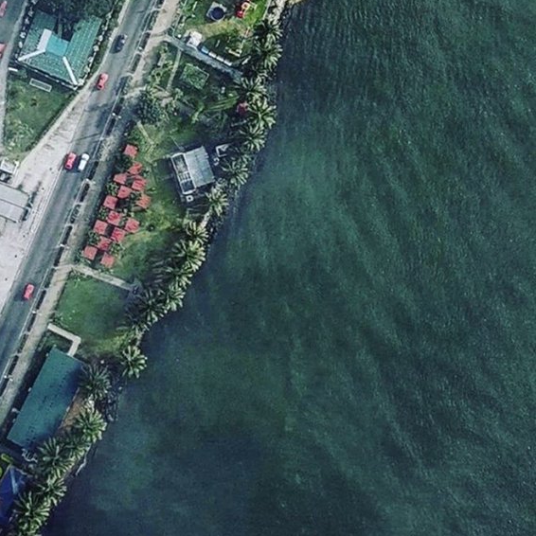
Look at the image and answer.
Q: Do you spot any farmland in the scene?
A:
No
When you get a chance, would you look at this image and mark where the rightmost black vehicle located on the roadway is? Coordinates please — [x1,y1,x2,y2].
[113,33,125,52]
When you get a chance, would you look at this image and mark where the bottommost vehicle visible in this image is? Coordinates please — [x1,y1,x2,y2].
[21,283,33,302]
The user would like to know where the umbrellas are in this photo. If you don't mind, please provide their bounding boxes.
[100,252,115,269]
[112,171,128,185]
[95,234,112,252]
[117,184,132,200]
[82,244,99,261]
[122,142,140,159]
[123,216,140,234]
[92,219,109,235]
[107,209,122,225]
[127,160,143,176]
[111,227,127,243]
[131,175,146,191]
[135,193,152,211]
